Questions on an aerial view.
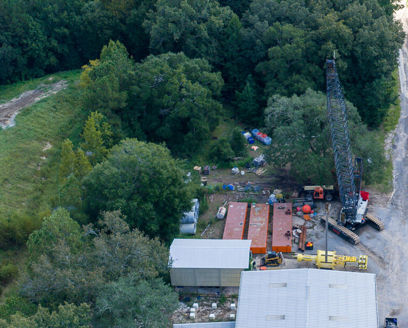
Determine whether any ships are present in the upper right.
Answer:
No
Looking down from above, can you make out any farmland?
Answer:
No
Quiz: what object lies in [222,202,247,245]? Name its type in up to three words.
ship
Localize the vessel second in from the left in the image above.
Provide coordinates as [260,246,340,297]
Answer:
[248,203,268,254]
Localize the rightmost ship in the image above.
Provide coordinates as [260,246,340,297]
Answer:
[273,203,292,253]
